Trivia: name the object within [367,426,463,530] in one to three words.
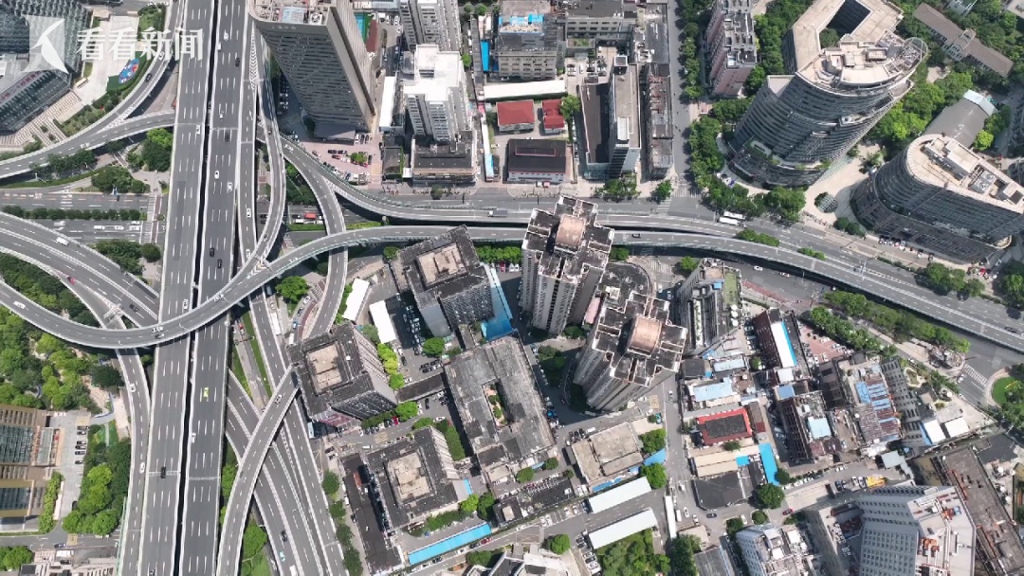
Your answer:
building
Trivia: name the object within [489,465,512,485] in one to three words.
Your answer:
shed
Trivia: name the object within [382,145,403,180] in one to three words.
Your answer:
building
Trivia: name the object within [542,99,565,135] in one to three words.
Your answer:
house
